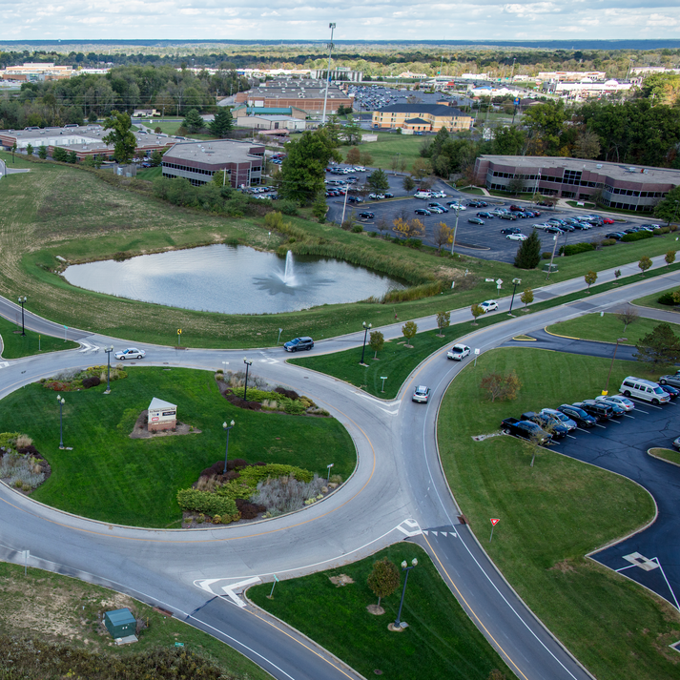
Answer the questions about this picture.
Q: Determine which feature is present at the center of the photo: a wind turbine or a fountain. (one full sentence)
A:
Visible at the center of the photo is a fountain.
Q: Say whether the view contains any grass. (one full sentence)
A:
Yes, the picture does contain grass.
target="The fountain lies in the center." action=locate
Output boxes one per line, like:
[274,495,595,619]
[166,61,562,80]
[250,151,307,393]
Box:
[266,246,315,291]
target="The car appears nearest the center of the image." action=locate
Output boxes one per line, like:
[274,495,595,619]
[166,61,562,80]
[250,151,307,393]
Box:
[283,333,315,350]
